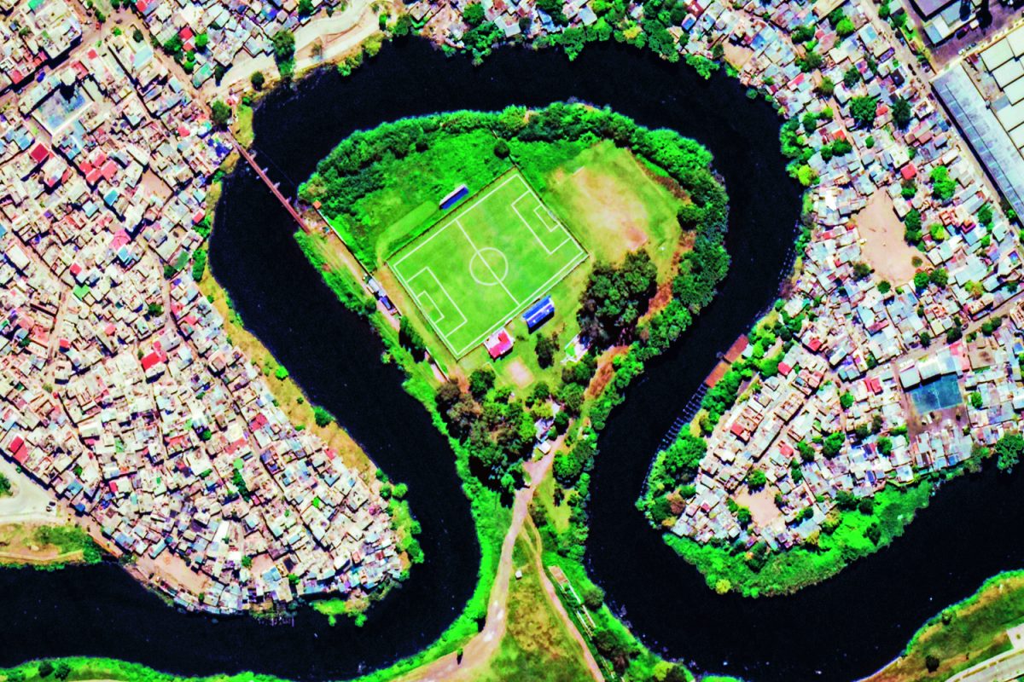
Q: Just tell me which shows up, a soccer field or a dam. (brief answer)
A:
soccer field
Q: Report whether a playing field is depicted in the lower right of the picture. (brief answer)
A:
No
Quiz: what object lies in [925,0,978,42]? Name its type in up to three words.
building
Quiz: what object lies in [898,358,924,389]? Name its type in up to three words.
building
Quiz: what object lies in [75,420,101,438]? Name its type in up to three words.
house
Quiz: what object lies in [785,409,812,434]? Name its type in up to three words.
house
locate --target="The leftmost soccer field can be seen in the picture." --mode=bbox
[387,166,589,361]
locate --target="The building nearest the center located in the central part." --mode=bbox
[483,328,513,357]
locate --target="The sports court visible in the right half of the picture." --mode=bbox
[912,375,964,416]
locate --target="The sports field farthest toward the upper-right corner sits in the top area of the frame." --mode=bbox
[548,141,679,279]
